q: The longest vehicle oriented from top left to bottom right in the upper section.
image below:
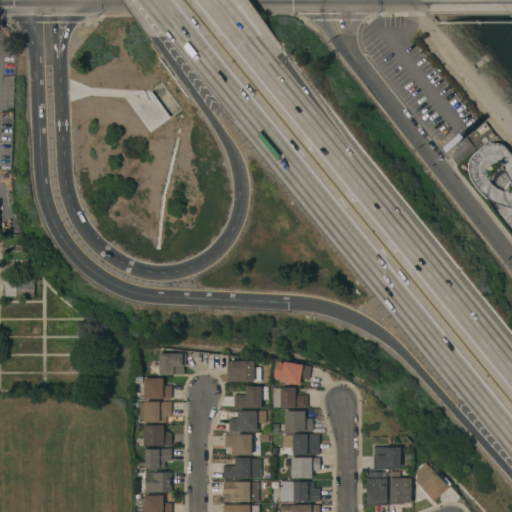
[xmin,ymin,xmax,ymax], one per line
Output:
[260,134,290,170]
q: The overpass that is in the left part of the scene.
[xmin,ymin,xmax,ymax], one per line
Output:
[124,0,279,44]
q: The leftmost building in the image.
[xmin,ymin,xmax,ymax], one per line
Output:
[4,279,34,297]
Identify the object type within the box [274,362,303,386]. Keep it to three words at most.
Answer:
house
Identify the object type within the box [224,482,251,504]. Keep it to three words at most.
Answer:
house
